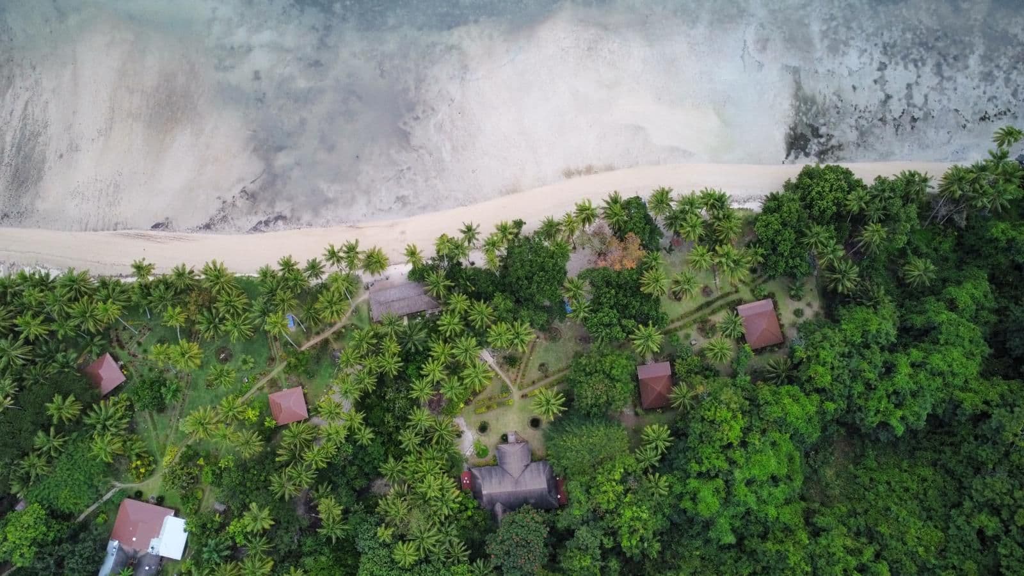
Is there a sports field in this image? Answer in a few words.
No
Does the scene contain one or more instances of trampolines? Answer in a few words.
No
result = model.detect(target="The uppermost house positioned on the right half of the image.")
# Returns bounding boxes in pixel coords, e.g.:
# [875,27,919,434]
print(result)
[735,299,785,351]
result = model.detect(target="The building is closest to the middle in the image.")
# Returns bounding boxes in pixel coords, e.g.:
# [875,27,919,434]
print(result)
[369,282,441,323]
